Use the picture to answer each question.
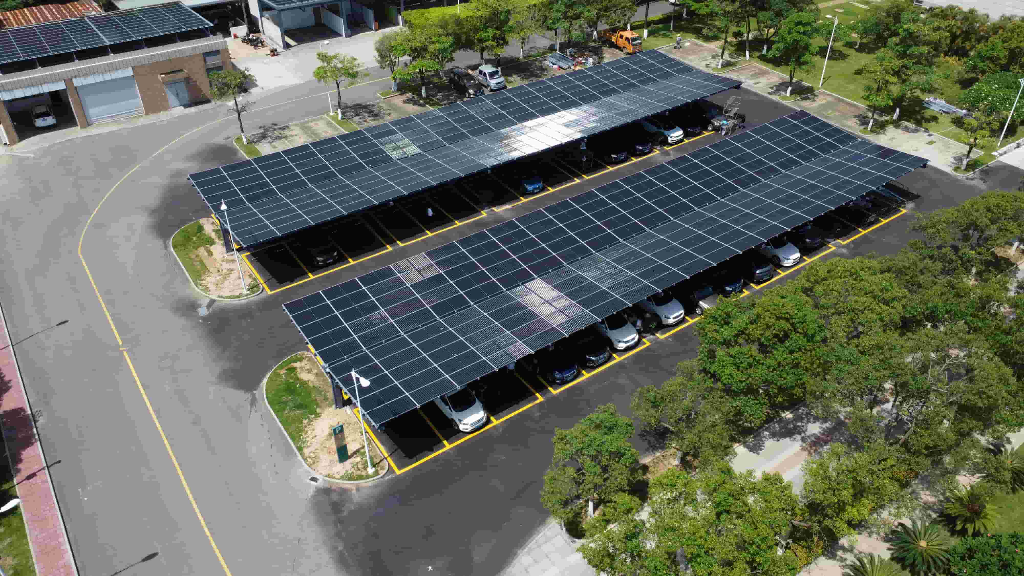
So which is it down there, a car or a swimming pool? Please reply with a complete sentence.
I can see a car in this picture.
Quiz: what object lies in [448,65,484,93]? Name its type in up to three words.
car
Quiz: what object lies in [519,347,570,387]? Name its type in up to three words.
car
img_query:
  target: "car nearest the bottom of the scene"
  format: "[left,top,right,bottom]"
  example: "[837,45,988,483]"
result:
[431,387,484,434]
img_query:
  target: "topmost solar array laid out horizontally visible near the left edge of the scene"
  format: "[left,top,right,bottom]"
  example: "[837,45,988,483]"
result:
[0,1,208,71]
